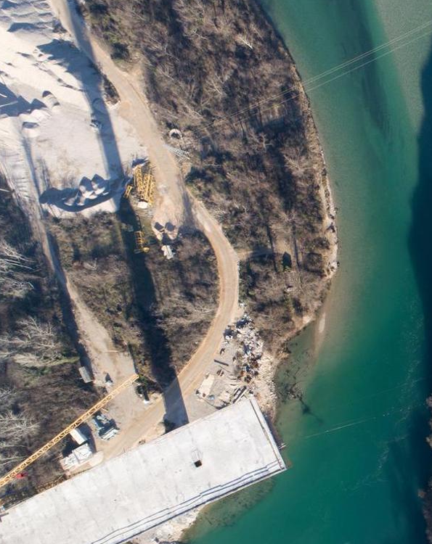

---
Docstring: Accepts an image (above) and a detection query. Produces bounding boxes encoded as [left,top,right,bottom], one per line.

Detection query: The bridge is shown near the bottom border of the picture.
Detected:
[0,399,286,544]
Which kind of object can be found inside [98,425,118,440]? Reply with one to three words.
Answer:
vehicle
